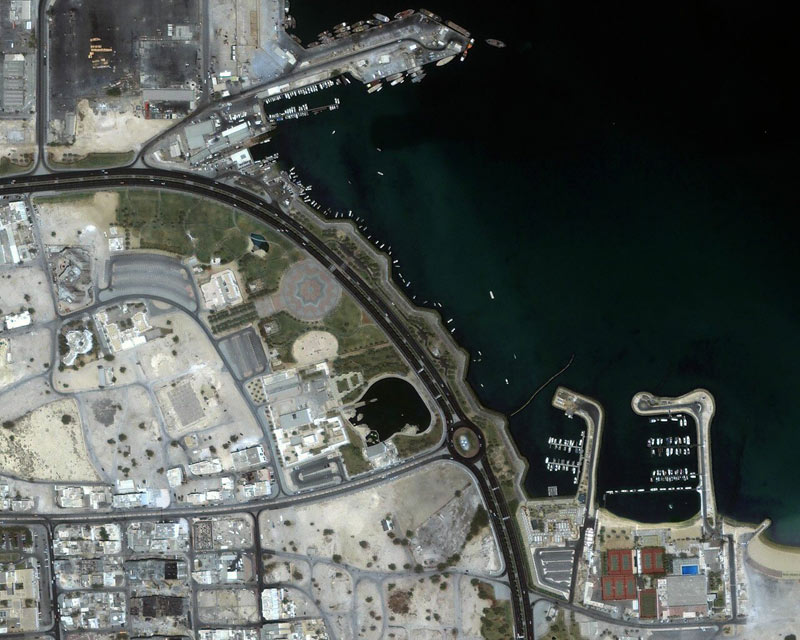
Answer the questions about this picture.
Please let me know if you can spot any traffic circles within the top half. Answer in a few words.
No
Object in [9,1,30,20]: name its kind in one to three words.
building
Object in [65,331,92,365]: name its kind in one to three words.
house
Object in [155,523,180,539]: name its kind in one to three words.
building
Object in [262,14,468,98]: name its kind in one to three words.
pier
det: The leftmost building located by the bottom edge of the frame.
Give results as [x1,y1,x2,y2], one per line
[0,568,38,634]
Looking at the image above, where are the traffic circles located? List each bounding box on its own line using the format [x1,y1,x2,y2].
[447,421,485,464]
